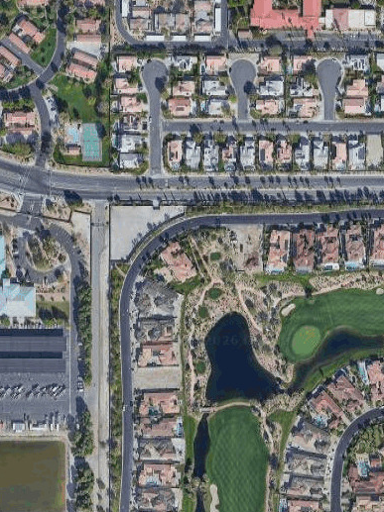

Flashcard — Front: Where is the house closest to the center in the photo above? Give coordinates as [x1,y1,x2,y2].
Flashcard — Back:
[160,241,198,279]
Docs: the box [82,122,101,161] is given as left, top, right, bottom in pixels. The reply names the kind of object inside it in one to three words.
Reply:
tennis court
